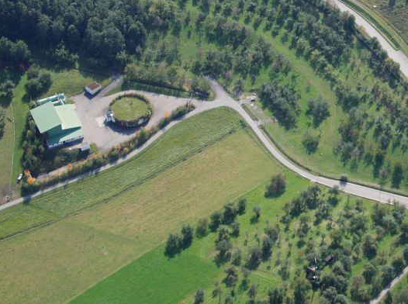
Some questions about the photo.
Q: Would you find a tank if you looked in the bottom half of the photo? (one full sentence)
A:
No, I see no tank in the bottom half of the photo.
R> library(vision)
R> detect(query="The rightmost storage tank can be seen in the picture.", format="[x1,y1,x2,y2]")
[107,92,152,125]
